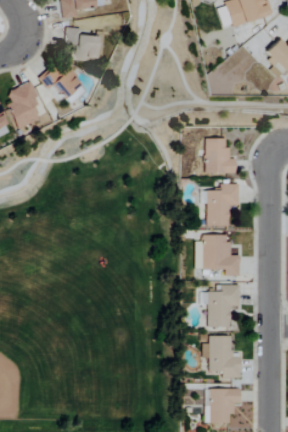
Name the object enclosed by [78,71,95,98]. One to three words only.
swimming pool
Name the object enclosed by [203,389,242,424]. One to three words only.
house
